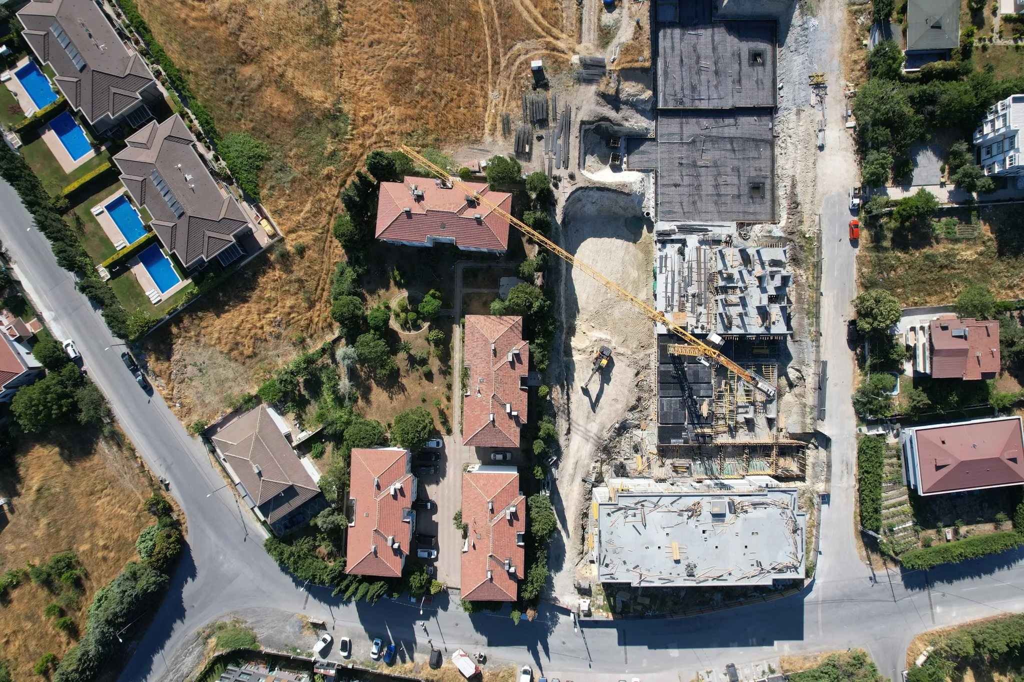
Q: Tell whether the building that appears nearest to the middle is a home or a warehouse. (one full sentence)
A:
Specifically, the building that appears nearest to the middle is a home.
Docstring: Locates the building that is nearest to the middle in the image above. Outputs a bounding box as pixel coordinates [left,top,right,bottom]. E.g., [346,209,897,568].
[462,314,530,448]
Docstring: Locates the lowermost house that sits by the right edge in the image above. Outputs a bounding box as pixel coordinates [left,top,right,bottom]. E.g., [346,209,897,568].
[891,413,1024,495]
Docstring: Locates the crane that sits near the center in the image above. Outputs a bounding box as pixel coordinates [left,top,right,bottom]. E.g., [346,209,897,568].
[398,142,779,400]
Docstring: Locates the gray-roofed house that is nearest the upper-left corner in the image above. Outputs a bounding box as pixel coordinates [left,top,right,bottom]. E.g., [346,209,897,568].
[16,0,169,131]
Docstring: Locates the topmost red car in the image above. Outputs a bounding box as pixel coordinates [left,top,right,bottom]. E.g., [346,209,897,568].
[850,219,862,240]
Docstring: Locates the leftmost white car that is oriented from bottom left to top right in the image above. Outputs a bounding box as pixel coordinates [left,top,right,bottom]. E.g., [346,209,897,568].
[313,634,331,655]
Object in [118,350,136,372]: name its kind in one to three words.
car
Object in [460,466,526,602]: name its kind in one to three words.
house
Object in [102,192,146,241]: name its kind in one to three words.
swimming pool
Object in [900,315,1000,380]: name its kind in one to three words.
house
